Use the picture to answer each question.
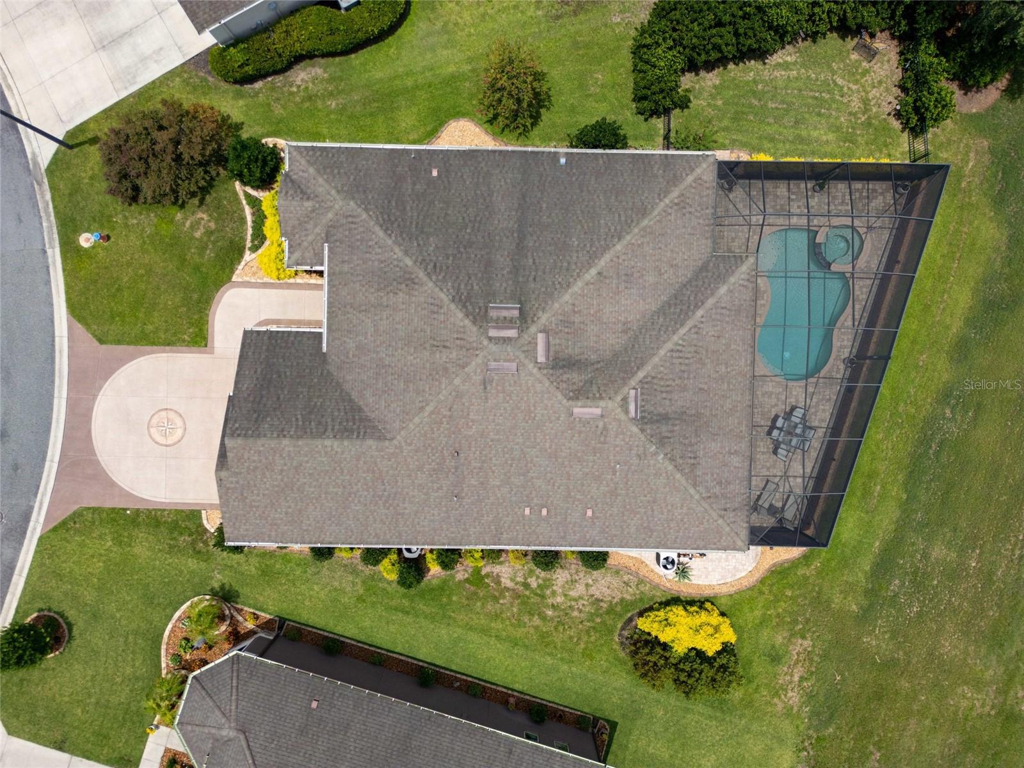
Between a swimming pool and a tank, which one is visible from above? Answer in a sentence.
The image shows a swimming pool.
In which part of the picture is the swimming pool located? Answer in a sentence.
You can find the swimming pool in the right area of the picture.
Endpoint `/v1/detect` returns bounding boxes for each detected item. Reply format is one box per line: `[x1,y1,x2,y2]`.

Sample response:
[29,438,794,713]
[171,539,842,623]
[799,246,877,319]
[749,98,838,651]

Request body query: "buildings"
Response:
[175,631,624,768]
[179,0,306,44]
[215,144,757,554]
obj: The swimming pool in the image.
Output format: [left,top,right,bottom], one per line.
[753,220,865,386]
